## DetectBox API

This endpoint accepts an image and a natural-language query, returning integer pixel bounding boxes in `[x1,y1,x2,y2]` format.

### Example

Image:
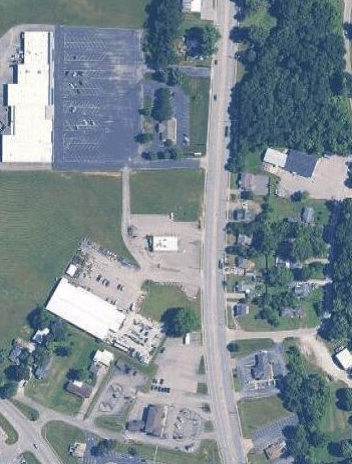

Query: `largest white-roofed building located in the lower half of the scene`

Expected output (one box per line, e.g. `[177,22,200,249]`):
[47,277,125,340]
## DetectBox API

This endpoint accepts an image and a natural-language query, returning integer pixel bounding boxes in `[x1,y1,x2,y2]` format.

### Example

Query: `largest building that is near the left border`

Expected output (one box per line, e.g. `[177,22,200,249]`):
[2,31,53,162]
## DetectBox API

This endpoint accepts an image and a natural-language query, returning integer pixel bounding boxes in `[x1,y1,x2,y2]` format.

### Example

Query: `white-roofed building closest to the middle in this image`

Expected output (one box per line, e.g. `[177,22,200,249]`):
[153,235,178,250]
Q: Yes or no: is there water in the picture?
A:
No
